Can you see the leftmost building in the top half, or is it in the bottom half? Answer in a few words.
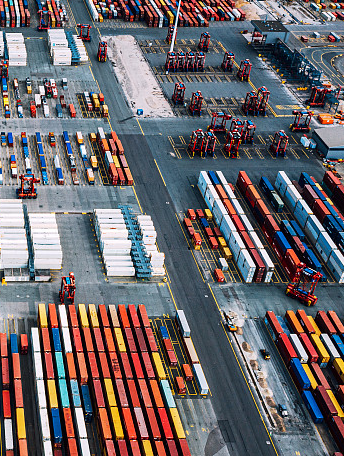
top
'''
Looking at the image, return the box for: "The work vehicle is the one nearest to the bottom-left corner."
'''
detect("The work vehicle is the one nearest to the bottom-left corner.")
[58,265,77,305]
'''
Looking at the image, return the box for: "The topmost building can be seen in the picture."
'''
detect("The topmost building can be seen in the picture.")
[250,21,289,42]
